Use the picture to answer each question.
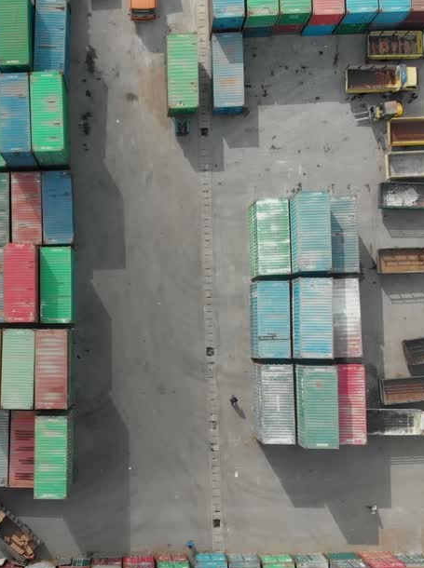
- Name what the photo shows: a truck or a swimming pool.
truck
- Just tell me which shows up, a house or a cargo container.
cargo container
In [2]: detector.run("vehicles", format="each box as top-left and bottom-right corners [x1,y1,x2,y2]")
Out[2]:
[377,182,424,212]
[344,63,418,97]
[382,149,424,182]
[376,374,424,405]
[384,116,424,149]
[0,496,44,566]
[366,30,424,64]
[127,0,160,28]
[349,95,402,120]
[397,335,424,368]
[366,409,424,436]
